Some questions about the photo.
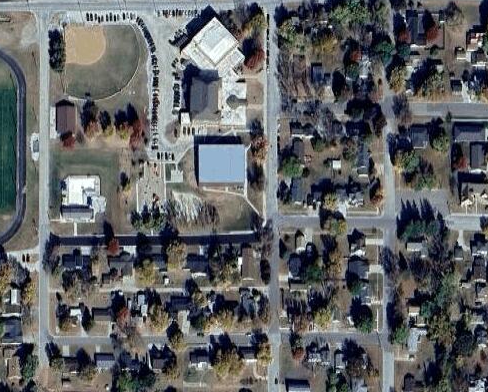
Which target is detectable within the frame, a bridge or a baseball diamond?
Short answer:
baseball diamond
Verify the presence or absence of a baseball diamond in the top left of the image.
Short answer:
Yes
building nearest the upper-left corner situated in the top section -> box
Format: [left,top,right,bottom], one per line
[57,104,76,135]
